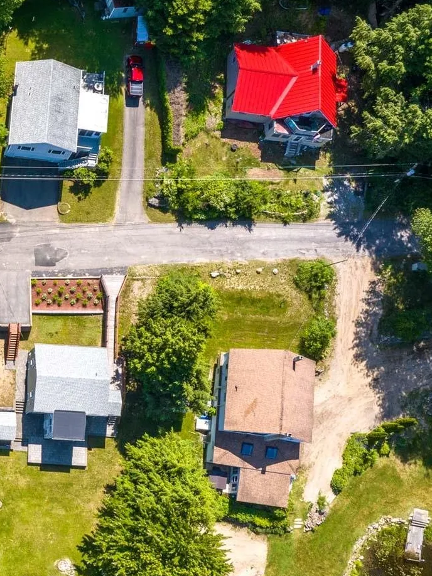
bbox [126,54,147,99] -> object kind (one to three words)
truck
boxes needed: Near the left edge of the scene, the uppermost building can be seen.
[7,58,108,179]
